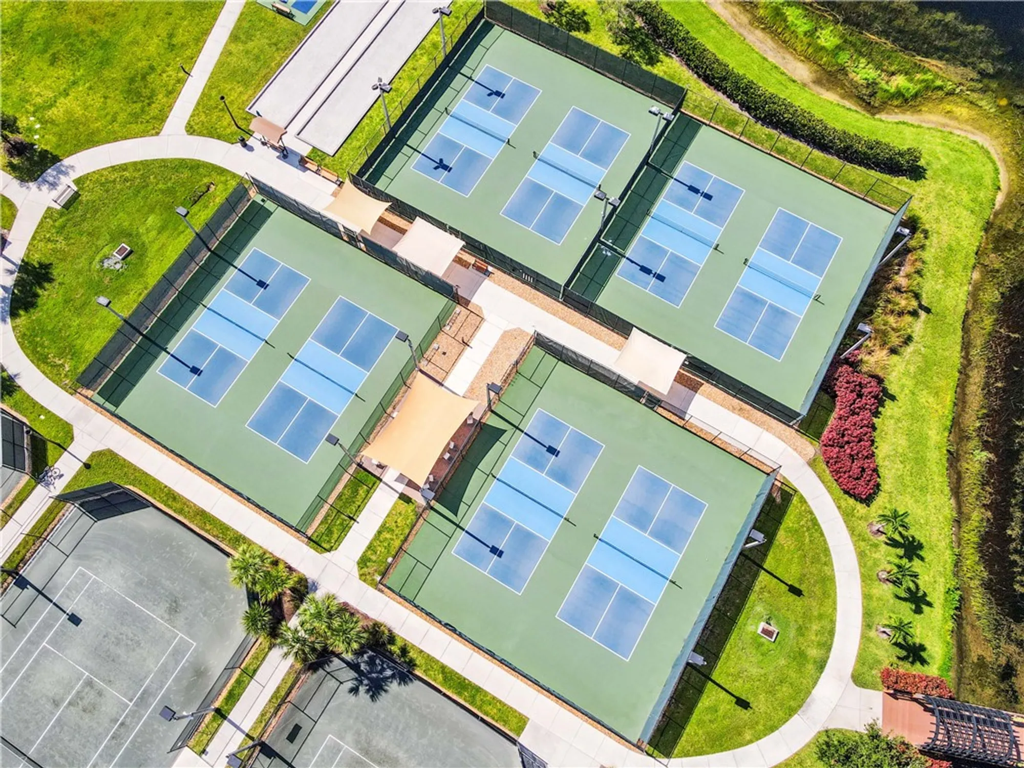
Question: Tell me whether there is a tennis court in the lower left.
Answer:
Yes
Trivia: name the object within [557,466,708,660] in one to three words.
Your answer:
sports court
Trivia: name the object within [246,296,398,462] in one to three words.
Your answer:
sports court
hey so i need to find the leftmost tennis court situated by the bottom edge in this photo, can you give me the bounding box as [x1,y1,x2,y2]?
[0,493,248,768]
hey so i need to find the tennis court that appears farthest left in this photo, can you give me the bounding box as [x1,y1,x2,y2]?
[0,410,26,501]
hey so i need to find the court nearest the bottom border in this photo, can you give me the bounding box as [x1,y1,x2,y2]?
[248,649,517,768]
